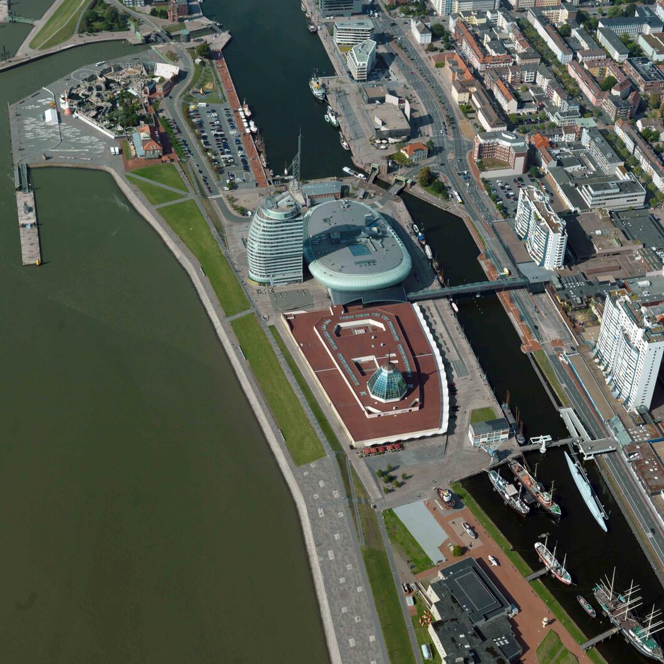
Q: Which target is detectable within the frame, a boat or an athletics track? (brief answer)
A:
boat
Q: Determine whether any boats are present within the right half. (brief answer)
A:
Yes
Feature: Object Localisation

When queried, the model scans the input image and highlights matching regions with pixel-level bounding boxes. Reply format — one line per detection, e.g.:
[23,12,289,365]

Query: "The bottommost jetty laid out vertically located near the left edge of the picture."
[14,190,44,268]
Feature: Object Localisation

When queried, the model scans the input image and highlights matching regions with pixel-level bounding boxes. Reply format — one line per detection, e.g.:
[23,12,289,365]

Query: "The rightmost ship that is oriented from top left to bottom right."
[593,567,664,664]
